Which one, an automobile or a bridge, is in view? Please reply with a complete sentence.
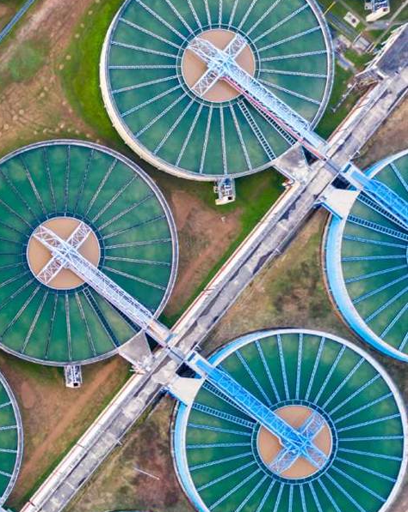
There is a bridge in the scene.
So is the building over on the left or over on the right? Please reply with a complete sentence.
You can find the building on the right side of the picture.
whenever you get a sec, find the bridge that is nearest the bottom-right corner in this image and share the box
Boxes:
[179,350,315,460]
